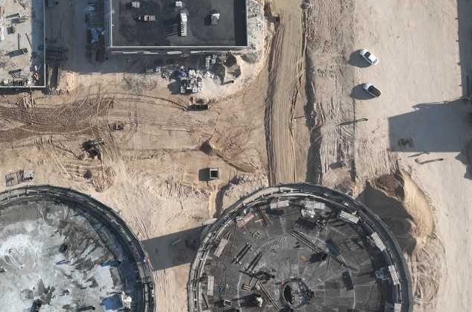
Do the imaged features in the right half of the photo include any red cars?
No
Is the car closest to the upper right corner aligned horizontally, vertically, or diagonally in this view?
diagonally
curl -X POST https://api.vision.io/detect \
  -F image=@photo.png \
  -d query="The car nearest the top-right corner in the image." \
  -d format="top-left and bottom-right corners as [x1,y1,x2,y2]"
[358,47,381,67]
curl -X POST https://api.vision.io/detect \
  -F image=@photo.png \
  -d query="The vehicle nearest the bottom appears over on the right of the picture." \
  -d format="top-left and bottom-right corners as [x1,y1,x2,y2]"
[361,82,385,100]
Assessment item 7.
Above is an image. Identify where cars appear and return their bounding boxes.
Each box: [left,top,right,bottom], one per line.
[358,47,381,67]
[361,82,385,100]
